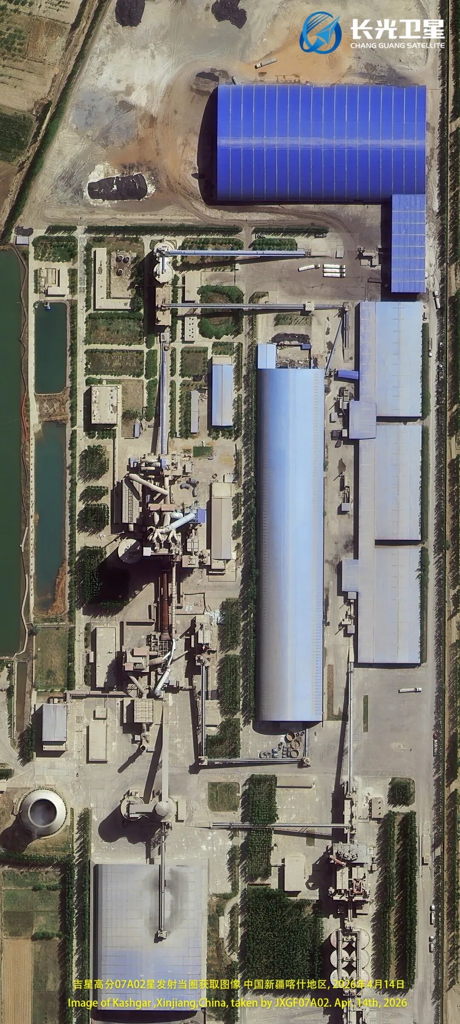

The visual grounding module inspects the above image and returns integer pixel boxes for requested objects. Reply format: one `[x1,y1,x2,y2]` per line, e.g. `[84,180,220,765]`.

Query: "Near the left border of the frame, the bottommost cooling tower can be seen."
[12,787,69,838]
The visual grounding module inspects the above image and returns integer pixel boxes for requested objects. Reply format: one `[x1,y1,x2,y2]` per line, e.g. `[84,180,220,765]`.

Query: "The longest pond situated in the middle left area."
[35,423,66,612]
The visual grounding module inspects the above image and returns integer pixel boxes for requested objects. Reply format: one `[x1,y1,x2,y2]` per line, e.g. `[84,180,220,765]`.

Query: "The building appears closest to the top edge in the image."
[218,85,426,201]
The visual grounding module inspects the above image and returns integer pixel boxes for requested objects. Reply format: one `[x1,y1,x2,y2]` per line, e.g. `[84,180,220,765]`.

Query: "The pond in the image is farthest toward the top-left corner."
[34,302,67,393]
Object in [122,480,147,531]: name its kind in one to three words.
house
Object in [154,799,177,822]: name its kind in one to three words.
silo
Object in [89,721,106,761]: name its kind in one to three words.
building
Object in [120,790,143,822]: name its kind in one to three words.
silo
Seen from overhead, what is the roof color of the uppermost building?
blue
